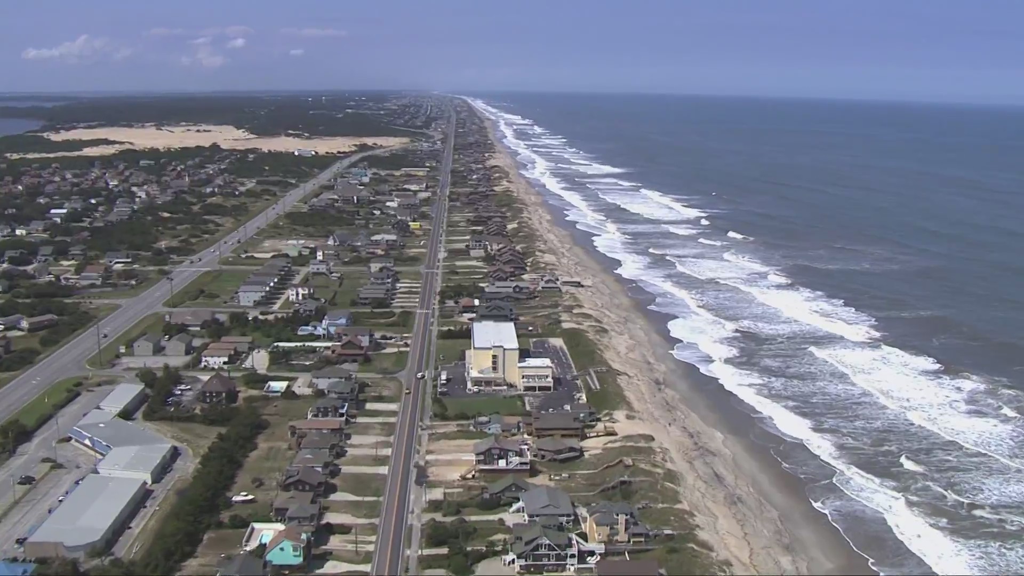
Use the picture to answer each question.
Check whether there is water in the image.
Yes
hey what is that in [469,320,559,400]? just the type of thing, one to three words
building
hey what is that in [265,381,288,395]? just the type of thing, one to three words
swimming pool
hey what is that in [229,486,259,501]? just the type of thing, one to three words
boat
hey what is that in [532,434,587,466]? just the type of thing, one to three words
house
